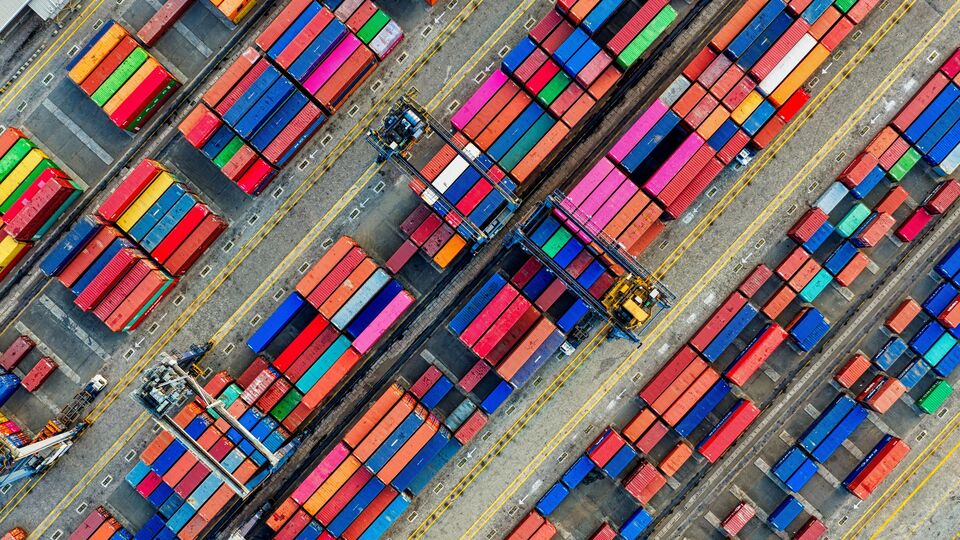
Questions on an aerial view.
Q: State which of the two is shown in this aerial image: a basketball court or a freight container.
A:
freight container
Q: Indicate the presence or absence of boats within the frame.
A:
No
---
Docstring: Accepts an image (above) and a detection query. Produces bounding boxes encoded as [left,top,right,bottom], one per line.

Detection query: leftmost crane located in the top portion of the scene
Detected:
[365,89,526,253]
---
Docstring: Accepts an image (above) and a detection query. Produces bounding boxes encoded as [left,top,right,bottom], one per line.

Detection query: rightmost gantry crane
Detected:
[505,184,683,347]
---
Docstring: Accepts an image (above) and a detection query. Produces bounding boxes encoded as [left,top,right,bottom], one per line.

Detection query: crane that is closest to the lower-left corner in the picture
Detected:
[0,421,88,490]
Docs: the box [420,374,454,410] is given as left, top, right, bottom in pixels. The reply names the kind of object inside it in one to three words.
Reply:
shipping container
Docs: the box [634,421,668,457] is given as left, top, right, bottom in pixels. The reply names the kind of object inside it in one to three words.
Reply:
shipping container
